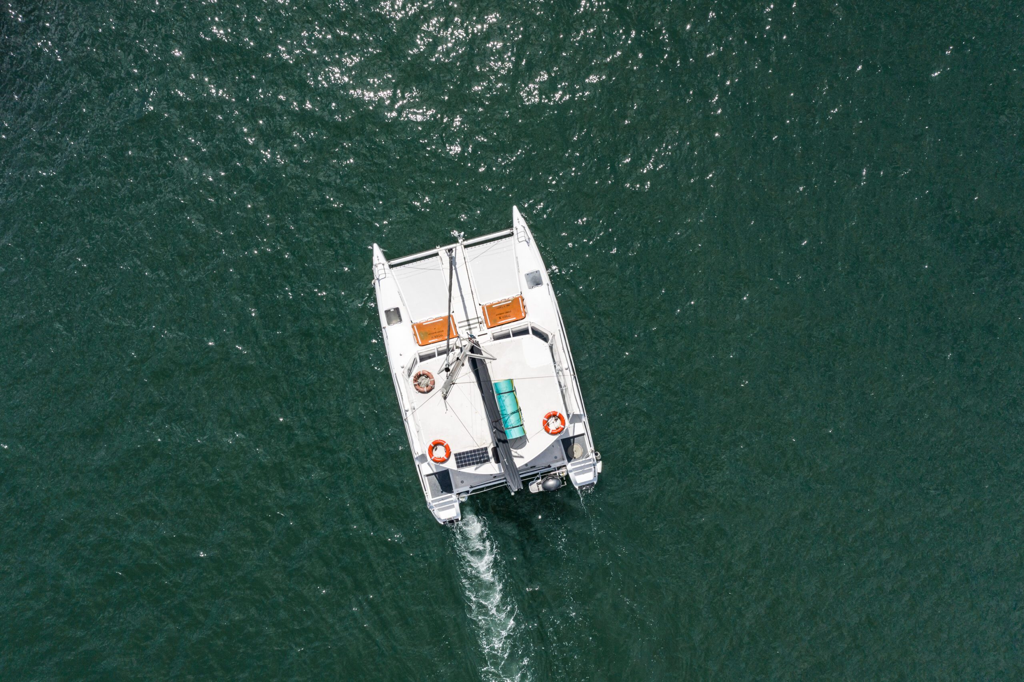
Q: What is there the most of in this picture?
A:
water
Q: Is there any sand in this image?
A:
No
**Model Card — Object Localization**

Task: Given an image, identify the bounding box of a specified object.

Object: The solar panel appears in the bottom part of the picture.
[453,444,492,469]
